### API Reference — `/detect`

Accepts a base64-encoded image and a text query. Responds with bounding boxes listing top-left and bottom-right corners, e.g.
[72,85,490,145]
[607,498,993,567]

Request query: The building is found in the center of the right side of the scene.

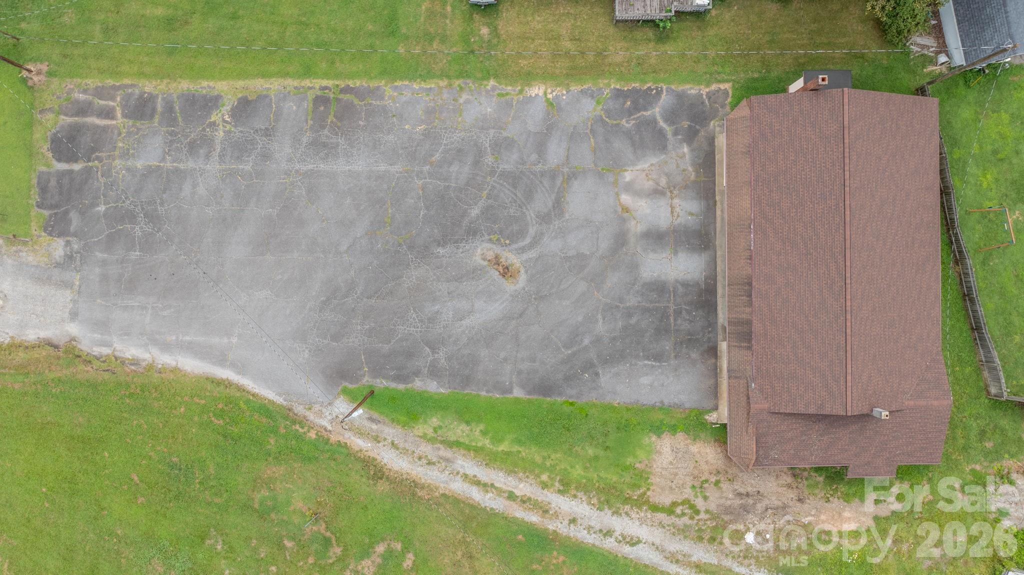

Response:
[722,75,952,478]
